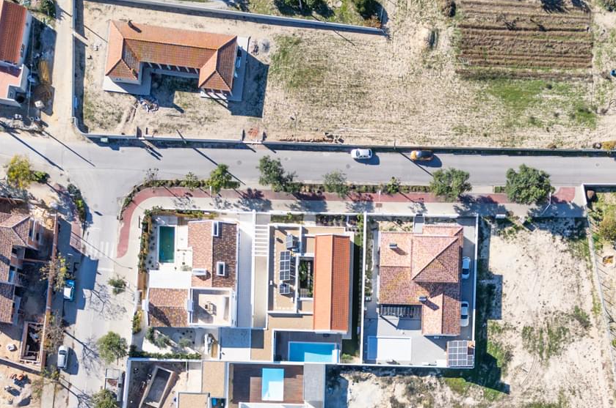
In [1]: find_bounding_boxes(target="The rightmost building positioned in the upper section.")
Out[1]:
[103,21,250,102]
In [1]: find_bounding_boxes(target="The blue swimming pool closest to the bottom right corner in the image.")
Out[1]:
[287,342,337,362]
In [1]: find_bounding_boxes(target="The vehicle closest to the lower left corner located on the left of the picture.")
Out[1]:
[57,348,70,370]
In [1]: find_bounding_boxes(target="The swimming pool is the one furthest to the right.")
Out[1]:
[367,337,412,361]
